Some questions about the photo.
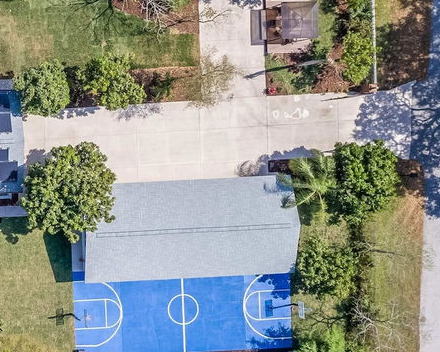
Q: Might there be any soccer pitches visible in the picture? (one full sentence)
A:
No, I find no soccer pitch anywhere in the image.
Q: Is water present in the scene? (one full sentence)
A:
No, water can't be seen anywhere here.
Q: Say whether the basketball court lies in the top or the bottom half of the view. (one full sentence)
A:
Seen from above, the basketball court lies in the bottom half of the view.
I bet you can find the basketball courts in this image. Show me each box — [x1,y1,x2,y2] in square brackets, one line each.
[74,268,293,352]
